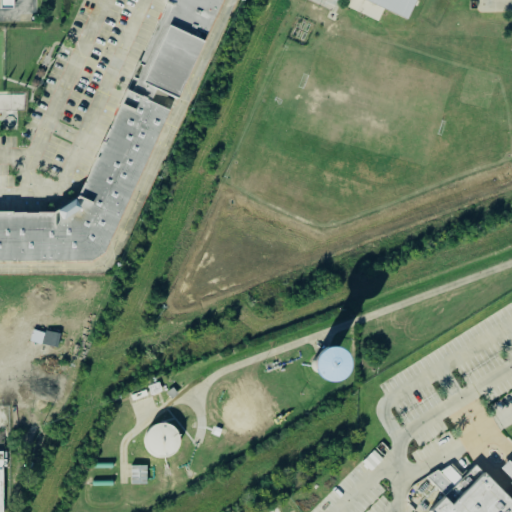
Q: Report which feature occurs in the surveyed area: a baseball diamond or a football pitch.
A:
football pitch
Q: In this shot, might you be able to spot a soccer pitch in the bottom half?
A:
No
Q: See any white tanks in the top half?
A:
No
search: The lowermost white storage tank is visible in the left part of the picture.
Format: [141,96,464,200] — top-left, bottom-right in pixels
[143,422,181,460]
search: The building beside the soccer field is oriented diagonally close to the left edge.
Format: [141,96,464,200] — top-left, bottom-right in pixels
[0,91,170,261]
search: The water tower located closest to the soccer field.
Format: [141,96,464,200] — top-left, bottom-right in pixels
[312,346,353,382]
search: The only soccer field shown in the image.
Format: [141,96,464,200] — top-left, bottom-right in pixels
[226,26,507,223]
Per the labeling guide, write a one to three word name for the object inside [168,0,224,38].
building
